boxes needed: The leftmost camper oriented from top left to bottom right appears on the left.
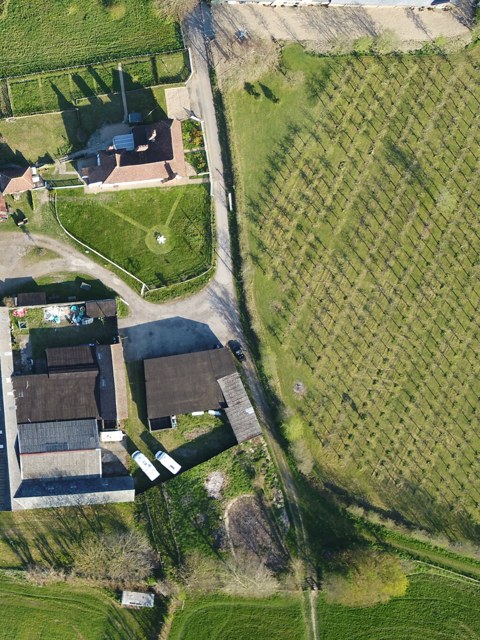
[129,448,158,483]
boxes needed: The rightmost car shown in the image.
[229,342,245,363]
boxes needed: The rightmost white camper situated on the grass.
[153,447,180,476]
